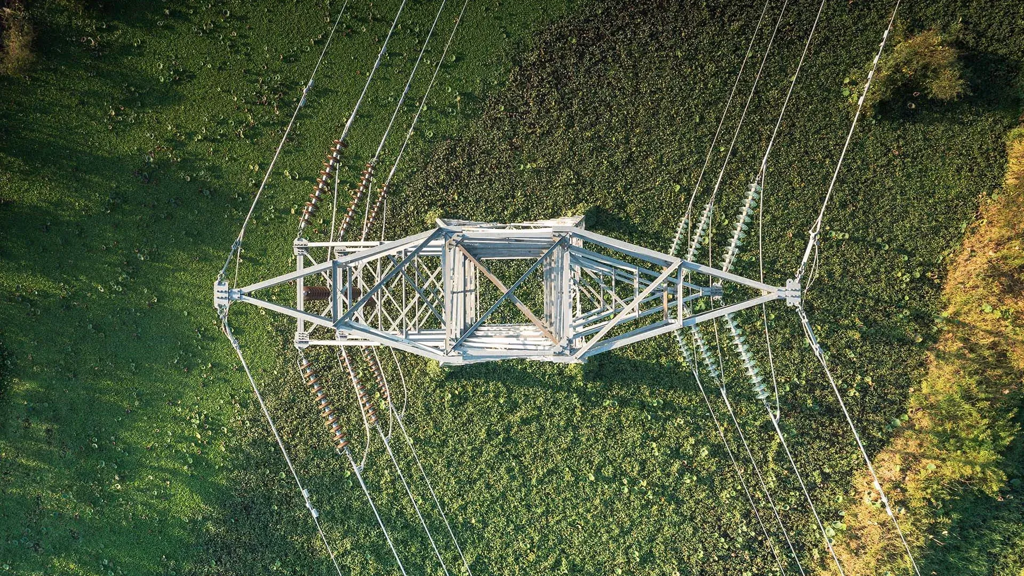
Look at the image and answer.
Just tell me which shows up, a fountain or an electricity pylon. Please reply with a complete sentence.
I can see an electricity pylon in this picture.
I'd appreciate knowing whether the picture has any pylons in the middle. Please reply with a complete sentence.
Yes, in the middle there is a pylon.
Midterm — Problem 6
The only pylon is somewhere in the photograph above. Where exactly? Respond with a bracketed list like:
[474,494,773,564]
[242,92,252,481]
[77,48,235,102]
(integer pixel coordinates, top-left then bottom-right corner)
[219,213,801,365]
